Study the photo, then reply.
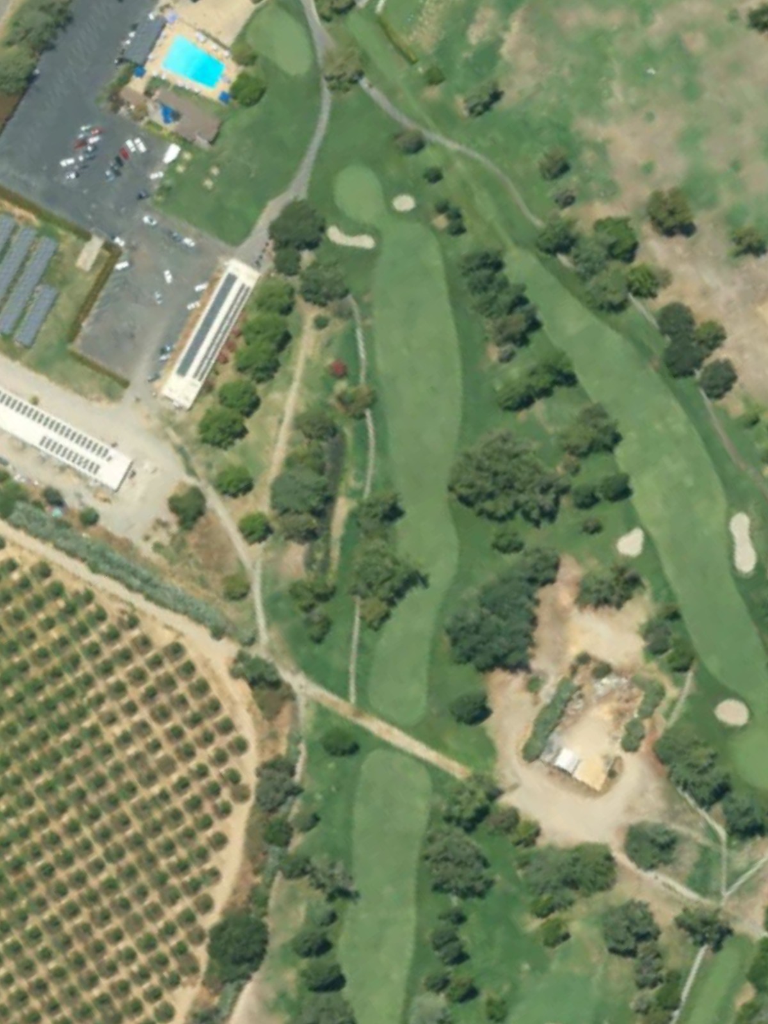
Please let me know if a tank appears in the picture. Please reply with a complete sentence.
No, there's no tank here.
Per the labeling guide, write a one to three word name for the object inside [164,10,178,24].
umbrella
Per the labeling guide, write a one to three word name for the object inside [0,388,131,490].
barn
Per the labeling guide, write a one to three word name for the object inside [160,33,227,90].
swimming pool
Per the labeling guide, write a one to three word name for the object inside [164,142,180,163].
vehicle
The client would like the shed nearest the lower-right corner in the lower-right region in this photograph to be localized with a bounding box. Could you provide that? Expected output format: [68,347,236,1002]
[554,749,580,775]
